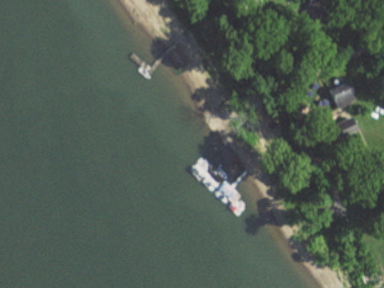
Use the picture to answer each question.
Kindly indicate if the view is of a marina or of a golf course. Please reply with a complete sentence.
The picture captures a marina.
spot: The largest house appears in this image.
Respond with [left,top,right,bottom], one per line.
[332,82,358,108]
